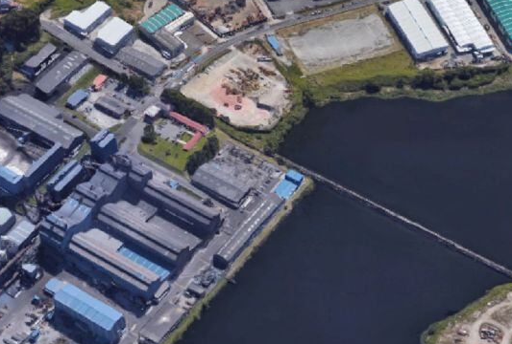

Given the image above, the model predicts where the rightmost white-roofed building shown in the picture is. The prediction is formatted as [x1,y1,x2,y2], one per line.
[426,0,494,57]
